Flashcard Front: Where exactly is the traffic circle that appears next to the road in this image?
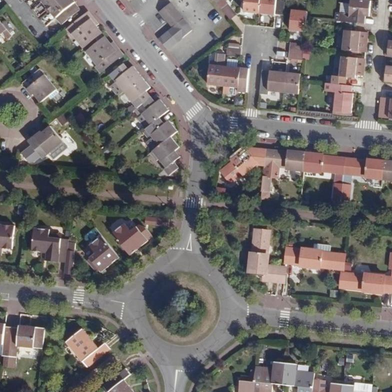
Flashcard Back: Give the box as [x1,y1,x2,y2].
[96,196,272,383]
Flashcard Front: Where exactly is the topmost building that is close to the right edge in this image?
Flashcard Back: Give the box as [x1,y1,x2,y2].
[336,0,374,26]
